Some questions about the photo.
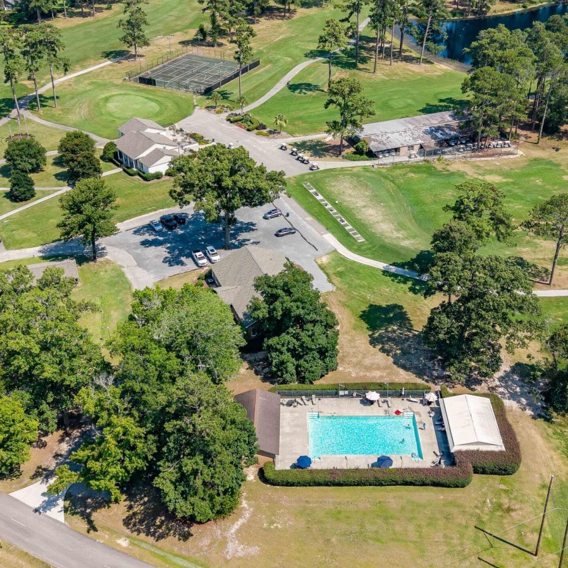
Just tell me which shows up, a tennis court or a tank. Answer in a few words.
tennis court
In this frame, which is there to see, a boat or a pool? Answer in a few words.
pool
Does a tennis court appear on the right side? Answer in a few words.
No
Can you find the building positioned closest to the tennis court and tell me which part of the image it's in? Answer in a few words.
top left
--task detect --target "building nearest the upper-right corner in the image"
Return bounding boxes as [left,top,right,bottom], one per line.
[344,109,489,160]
